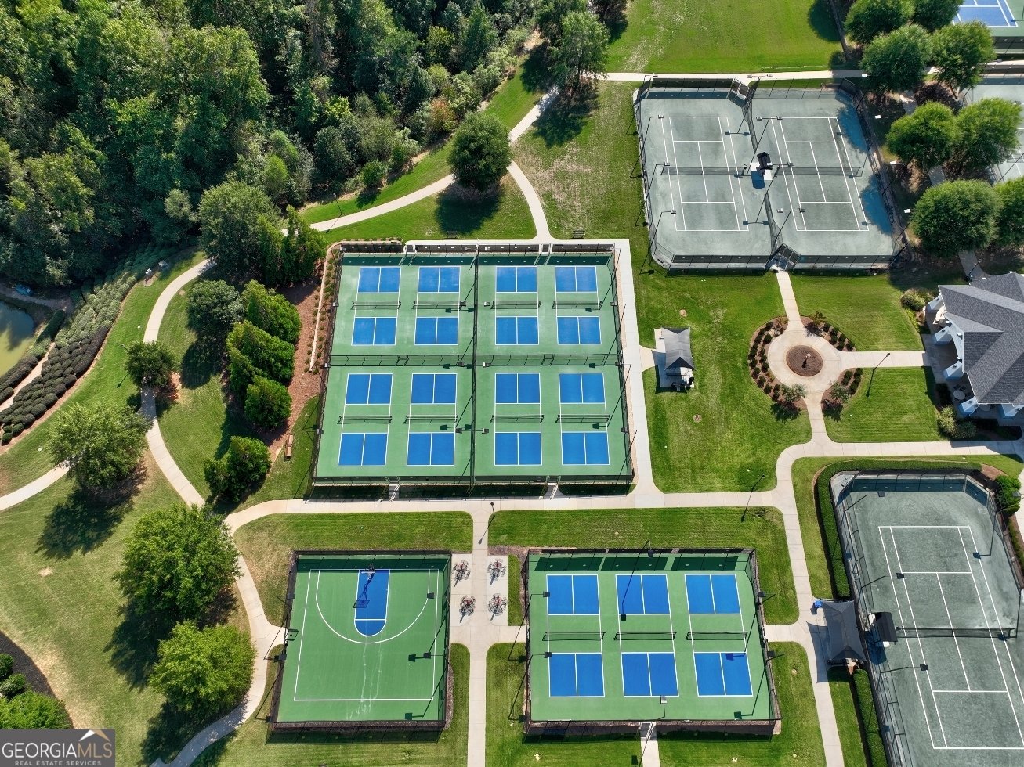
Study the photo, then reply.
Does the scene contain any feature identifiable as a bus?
No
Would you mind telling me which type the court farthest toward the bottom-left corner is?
basketball court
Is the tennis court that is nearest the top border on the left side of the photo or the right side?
right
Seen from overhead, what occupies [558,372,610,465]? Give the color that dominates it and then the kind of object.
blue sports court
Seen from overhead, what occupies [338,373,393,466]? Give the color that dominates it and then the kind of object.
blue sports court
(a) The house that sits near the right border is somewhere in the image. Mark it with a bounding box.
[928,272,1024,413]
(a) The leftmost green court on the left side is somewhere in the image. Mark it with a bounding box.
[281,556,452,722]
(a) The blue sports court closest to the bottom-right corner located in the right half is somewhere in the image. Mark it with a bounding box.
[685,574,753,696]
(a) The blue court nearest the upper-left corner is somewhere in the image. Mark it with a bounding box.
[351,266,401,345]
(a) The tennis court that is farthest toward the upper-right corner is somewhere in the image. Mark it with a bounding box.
[951,0,1021,28]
